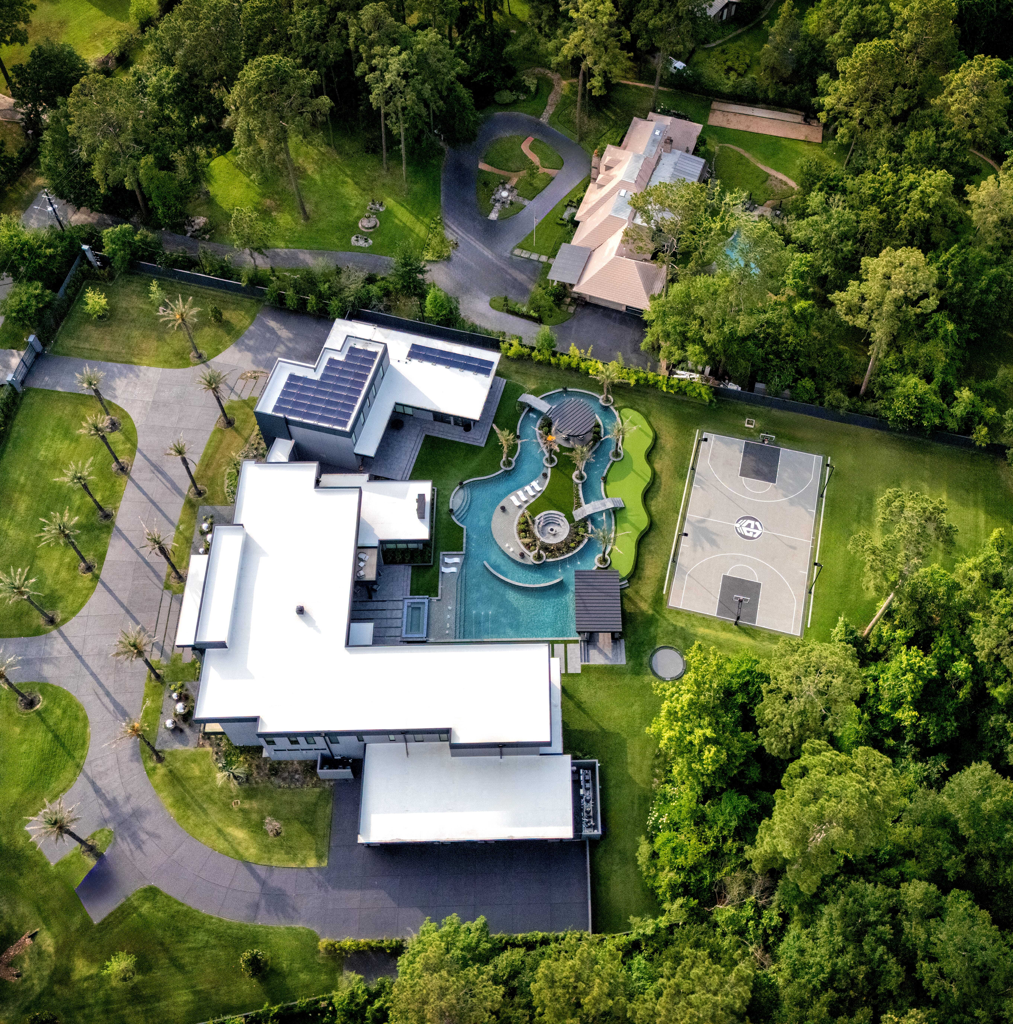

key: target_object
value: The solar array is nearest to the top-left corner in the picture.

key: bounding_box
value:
[270,344,382,427]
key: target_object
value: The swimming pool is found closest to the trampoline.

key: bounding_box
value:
[426,388,623,642]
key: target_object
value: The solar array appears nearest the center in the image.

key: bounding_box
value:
[404,344,496,377]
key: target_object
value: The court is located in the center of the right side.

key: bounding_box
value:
[666,429,826,637]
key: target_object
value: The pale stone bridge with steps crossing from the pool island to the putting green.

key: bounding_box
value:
[572,498,625,521]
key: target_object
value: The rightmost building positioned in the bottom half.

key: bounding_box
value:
[575,569,629,665]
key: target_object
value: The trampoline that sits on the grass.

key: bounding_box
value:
[649,638,690,679]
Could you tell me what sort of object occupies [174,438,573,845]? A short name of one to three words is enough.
house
